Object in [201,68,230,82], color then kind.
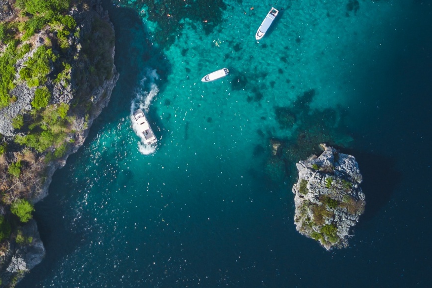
white boat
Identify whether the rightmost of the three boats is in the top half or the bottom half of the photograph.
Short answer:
top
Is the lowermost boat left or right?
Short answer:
left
